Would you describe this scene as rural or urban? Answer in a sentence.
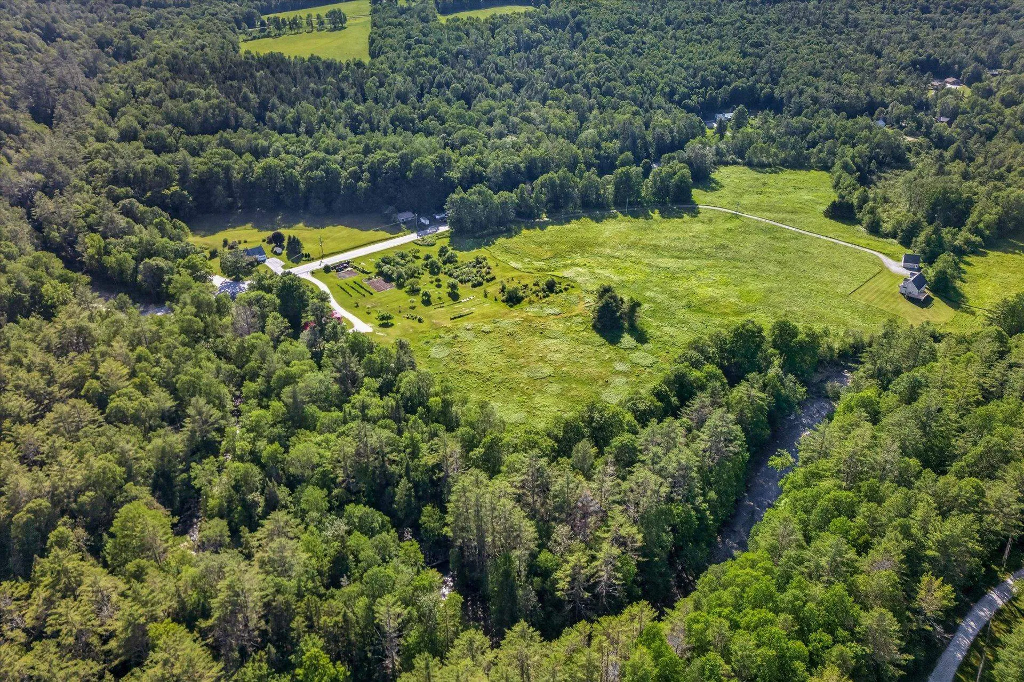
This place is rural.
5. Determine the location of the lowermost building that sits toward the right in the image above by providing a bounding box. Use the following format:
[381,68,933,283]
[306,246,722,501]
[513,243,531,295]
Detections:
[894,270,932,308]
